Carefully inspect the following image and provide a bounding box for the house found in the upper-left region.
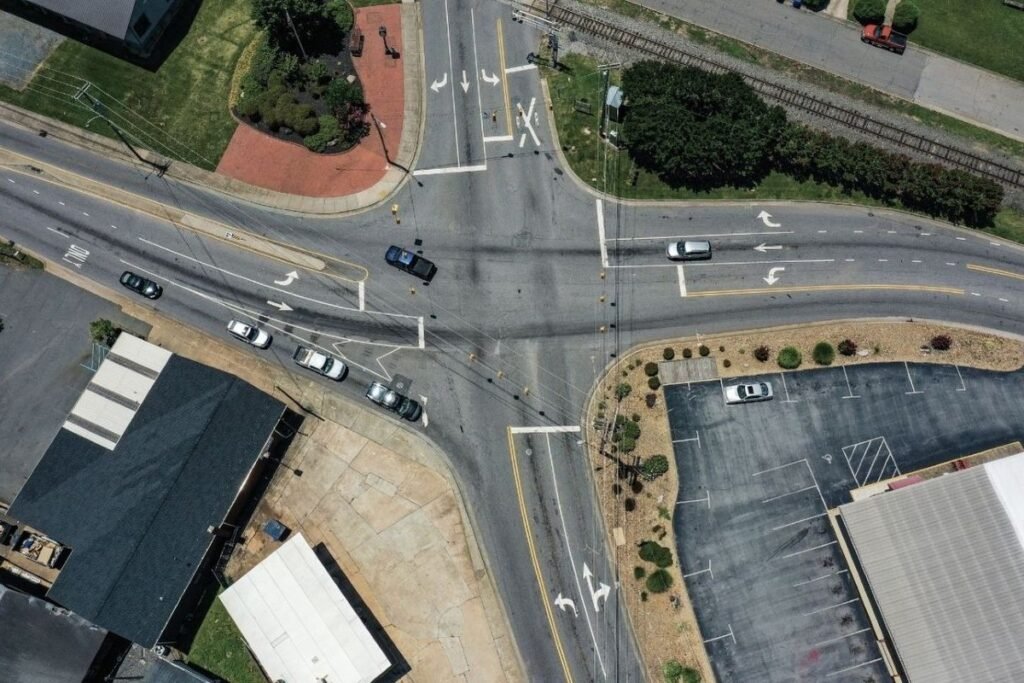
[29,0,202,74]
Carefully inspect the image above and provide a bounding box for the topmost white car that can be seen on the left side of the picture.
[224,317,270,347]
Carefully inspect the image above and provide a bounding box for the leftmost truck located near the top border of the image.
[862,22,912,49]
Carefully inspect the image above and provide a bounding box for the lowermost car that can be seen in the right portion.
[726,380,776,403]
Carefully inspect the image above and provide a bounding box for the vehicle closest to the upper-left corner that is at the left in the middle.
[118,271,160,296]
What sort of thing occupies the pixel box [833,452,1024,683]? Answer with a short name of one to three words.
building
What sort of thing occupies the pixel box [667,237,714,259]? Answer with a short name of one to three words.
car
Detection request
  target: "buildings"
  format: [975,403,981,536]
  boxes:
[4,331,291,650]
[29,0,202,74]
[143,656,214,683]
[219,533,398,683]
[833,452,1024,683]
[608,87,623,120]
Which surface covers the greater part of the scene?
paved ground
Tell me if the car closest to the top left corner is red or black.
black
